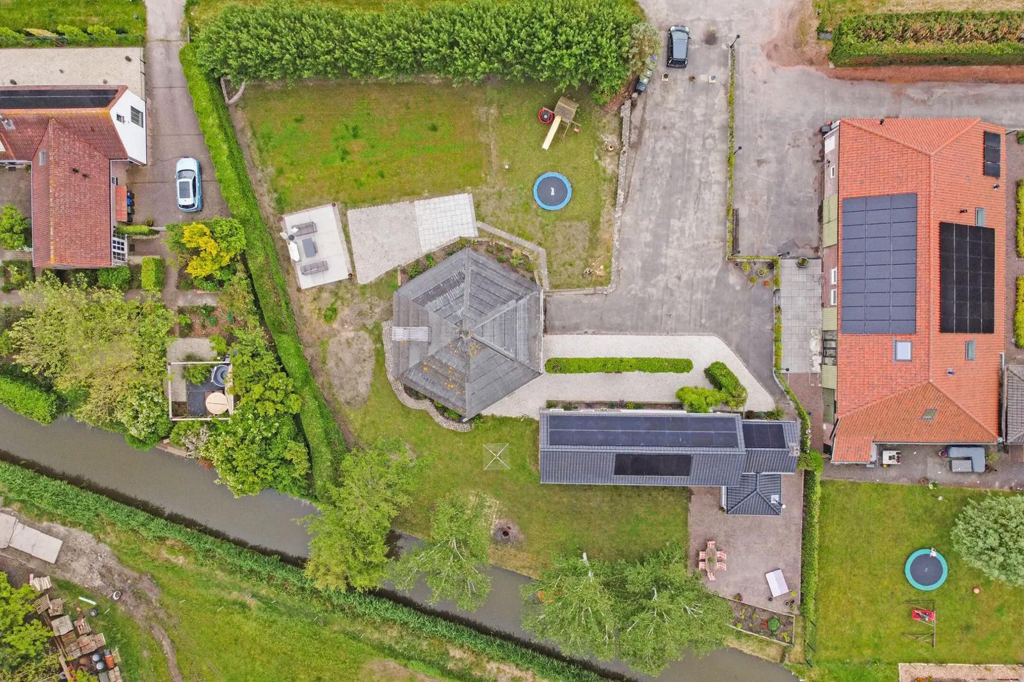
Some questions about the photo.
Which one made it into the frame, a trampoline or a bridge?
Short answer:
trampoline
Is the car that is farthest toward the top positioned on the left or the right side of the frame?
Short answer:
right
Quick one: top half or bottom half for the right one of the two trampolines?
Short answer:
bottom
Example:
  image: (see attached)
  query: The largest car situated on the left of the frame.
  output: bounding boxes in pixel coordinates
[174,159,204,211]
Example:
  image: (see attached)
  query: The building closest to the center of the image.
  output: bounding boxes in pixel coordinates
[390,243,546,421]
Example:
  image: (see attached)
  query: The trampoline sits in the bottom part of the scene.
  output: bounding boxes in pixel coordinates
[904,547,948,591]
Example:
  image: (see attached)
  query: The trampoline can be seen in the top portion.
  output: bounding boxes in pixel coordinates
[533,171,572,210]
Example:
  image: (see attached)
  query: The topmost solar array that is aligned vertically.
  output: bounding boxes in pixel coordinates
[983,131,1001,176]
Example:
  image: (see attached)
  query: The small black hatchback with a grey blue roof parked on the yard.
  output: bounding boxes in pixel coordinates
[668,25,693,69]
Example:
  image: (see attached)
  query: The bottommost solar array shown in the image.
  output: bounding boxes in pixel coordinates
[614,454,692,476]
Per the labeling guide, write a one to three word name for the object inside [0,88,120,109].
solar array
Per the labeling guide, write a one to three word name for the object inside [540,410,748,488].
barn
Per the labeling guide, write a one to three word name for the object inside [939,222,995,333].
solar array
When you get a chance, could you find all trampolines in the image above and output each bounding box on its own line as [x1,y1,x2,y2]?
[533,171,572,210]
[904,547,948,591]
